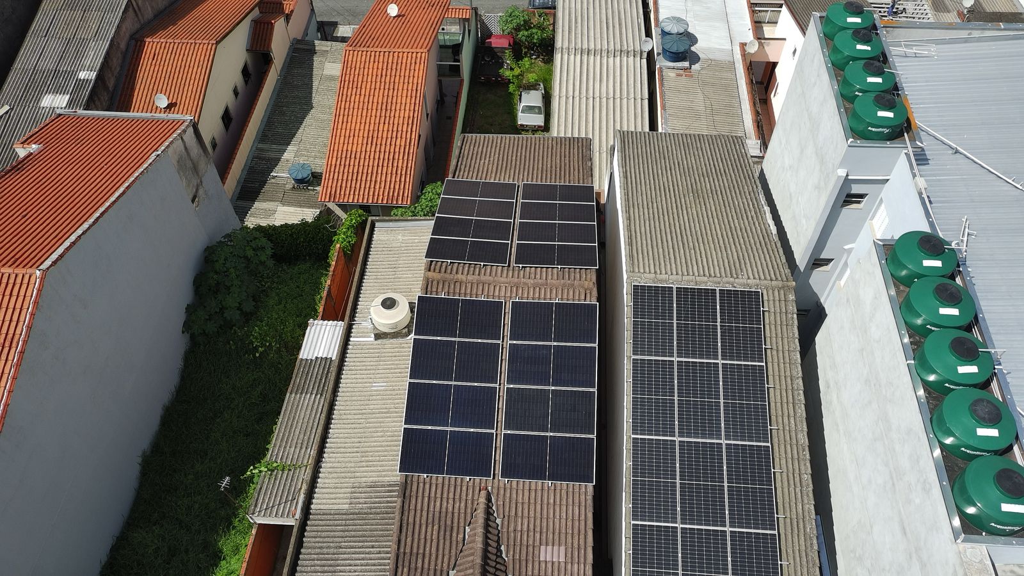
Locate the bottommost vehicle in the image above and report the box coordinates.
[517,80,550,133]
